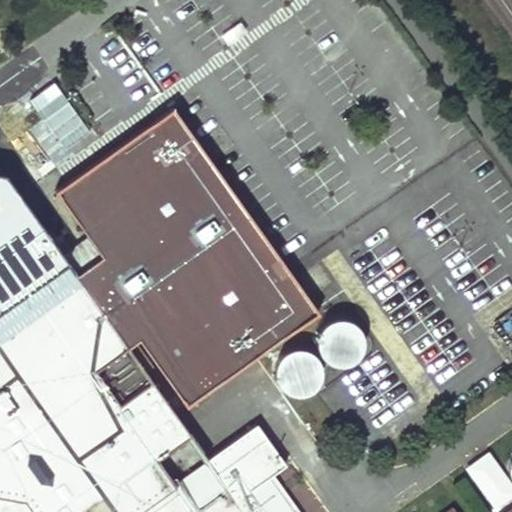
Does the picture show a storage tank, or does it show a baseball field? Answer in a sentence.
There is a storage tank in the scene.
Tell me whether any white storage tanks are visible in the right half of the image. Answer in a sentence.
Yes, the scene does show a white storage tank in the right half of the image.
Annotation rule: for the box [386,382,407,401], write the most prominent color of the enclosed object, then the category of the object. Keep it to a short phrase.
gray car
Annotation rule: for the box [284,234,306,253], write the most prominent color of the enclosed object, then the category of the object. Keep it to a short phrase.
white vehicle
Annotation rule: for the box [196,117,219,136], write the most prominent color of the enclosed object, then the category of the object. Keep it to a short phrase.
white vehicle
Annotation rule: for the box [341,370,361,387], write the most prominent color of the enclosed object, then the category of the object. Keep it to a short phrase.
white car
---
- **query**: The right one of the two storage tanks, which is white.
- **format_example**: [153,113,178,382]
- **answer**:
[317,320,367,370]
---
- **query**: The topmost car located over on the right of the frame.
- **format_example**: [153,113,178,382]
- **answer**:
[317,32,340,50]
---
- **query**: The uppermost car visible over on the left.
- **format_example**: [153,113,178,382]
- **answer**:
[176,1,198,19]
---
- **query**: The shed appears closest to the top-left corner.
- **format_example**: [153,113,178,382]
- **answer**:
[31,84,90,157]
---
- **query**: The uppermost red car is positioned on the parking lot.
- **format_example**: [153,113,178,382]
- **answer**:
[161,72,181,89]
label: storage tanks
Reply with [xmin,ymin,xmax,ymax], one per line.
[317,320,367,370]
[276,350,325,400]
